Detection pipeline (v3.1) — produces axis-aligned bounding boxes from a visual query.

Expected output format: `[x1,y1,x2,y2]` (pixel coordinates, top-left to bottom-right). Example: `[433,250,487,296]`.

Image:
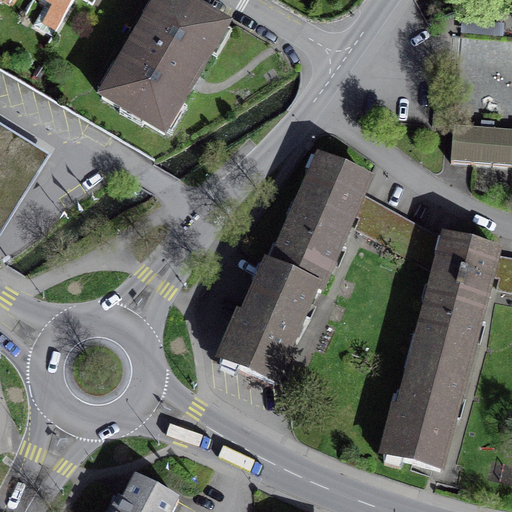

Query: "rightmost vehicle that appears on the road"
[472,214,497,230]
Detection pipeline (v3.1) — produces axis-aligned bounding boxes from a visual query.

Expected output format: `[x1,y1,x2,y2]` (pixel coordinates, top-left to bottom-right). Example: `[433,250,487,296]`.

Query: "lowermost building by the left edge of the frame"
[0,114,55,235]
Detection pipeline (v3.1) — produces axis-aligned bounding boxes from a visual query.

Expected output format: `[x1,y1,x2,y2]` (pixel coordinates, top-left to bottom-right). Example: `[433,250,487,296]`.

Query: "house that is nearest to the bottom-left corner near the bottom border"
[106,472,180,512]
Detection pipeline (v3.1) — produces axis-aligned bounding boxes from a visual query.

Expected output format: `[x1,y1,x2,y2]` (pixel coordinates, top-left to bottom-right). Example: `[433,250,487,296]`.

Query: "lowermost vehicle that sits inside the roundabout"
[97,422,120,439]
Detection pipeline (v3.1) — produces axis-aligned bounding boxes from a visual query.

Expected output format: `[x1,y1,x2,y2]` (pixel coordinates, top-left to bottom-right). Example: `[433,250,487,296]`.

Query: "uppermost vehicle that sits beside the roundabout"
[100,292,122,310]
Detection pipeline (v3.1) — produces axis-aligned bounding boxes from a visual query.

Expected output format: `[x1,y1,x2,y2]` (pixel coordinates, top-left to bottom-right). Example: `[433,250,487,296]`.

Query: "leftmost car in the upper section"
[81,172,104,190]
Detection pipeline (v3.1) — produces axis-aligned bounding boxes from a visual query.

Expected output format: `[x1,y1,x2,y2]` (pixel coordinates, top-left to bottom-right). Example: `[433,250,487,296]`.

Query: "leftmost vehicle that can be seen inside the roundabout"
[48,350,60,372]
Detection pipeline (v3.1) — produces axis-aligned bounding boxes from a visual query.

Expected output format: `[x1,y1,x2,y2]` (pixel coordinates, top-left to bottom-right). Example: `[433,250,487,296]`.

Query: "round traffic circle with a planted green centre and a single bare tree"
[26,302,170,442]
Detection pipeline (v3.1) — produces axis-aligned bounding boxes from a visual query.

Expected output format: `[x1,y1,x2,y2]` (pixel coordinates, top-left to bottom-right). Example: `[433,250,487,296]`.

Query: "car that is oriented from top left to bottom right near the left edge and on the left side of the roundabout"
[0,332,20,354]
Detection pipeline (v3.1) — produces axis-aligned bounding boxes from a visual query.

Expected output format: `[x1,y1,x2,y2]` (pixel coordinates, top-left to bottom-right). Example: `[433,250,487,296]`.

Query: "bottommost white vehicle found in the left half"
[8,480,25,508]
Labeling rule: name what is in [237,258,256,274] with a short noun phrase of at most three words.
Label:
car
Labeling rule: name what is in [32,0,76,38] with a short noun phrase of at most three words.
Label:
house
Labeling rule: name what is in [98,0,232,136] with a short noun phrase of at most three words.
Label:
building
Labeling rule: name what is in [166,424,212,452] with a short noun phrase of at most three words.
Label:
truck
